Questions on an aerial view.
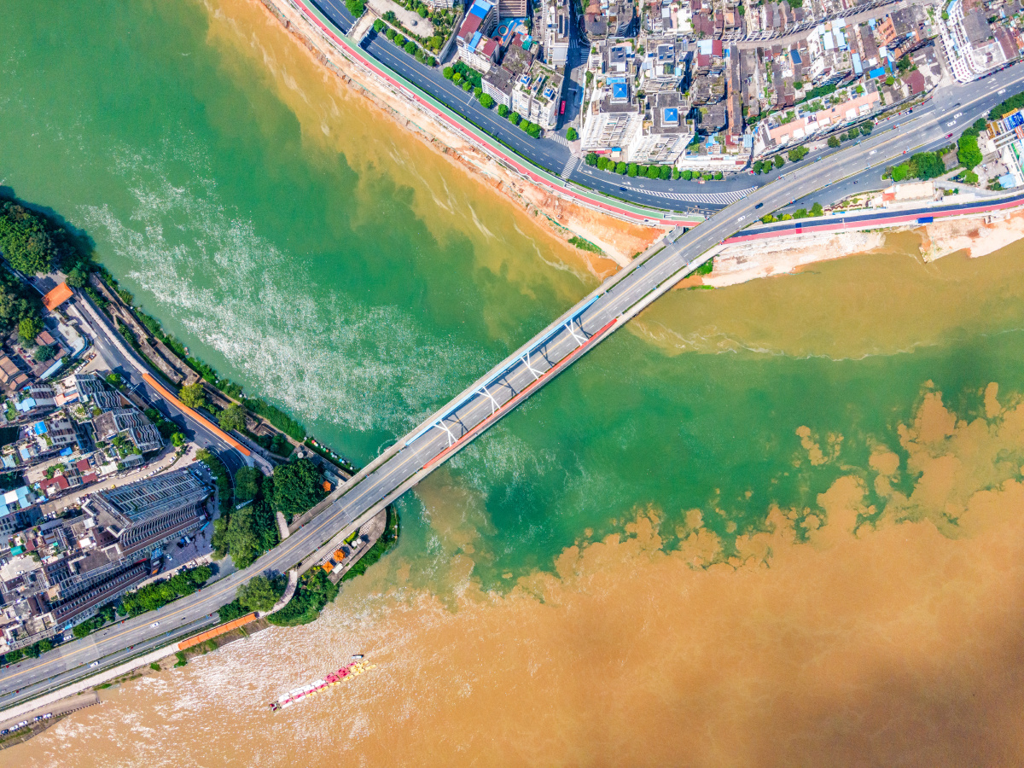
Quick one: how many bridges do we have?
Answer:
1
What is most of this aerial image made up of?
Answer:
water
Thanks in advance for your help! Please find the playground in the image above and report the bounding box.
[491,19,531,48]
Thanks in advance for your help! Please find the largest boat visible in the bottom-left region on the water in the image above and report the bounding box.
[267,700,280,713]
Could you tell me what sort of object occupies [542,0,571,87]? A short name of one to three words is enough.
building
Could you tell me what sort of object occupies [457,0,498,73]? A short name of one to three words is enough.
building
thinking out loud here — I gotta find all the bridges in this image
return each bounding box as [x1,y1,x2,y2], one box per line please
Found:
[280,121,913,567]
